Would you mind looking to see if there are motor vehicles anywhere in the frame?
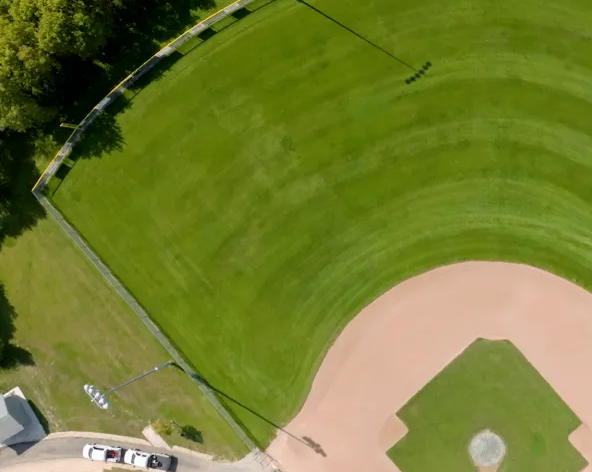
Yes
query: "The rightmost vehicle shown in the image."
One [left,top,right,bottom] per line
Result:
[127,448,175,468]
